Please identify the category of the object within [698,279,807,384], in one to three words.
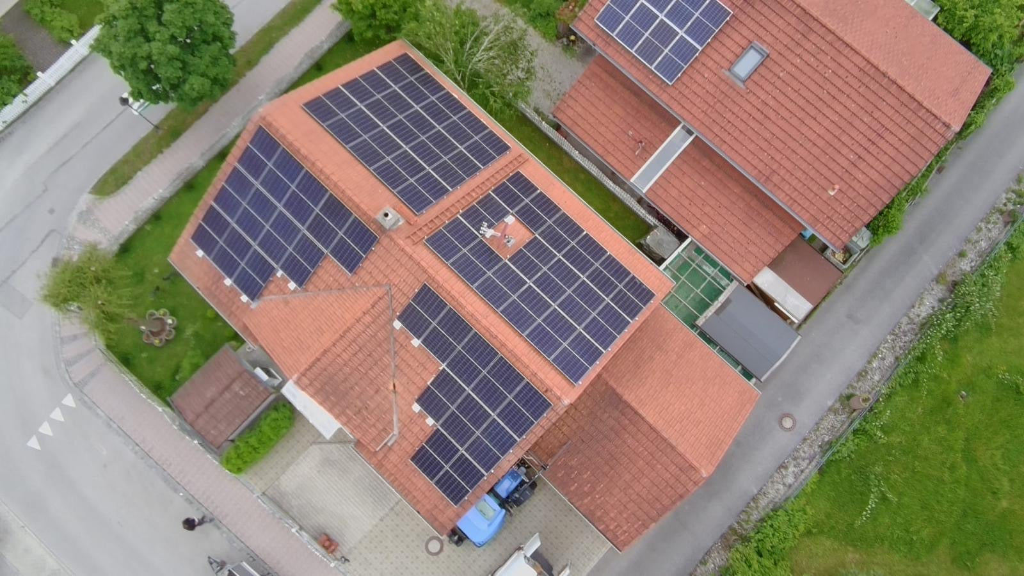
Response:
shed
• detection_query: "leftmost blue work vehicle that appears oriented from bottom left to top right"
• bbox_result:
[451,469,536,549]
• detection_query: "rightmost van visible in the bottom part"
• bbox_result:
[498,522,577,576]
